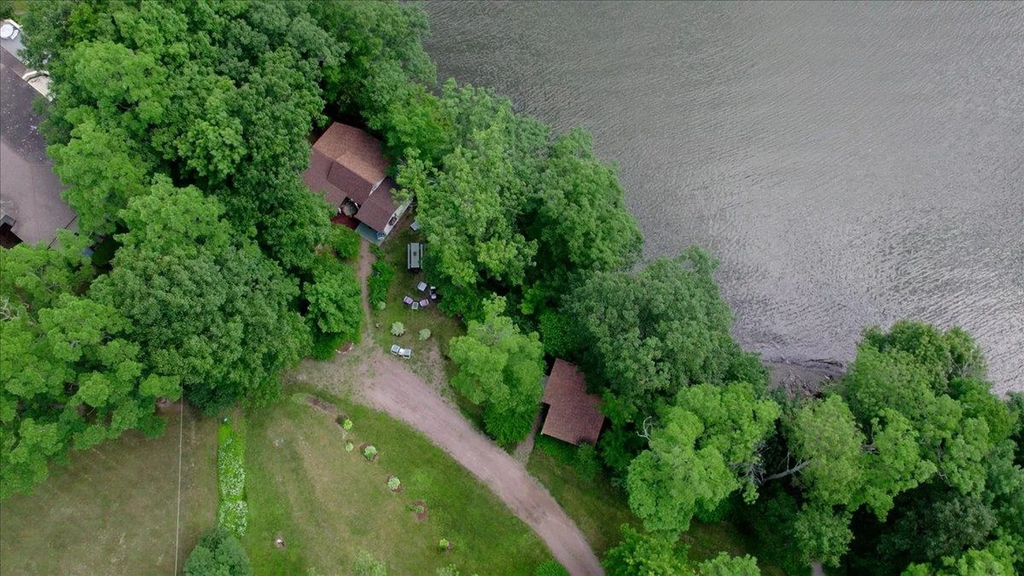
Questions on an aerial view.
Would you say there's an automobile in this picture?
No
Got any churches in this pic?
No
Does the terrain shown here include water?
Yes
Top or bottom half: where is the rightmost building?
bottom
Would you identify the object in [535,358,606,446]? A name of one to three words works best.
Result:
building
